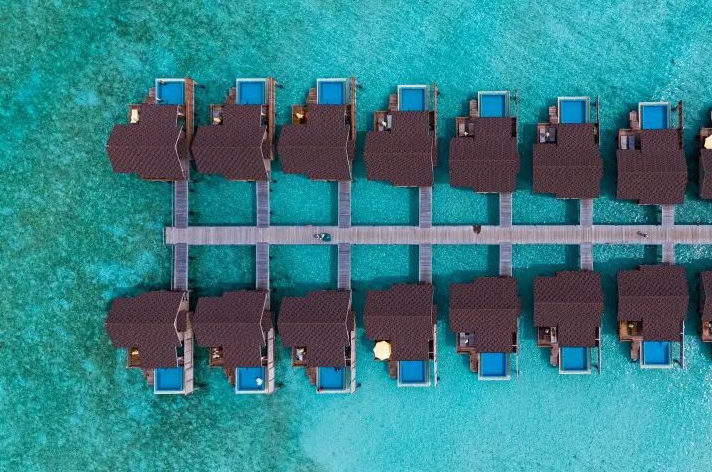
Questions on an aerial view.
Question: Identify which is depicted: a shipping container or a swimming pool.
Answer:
swimming pool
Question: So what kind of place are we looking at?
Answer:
residential area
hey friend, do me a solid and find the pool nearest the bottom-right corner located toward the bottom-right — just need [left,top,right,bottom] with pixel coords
[639,339,672,368]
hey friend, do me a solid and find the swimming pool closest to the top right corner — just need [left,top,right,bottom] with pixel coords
[637,102,670,131]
